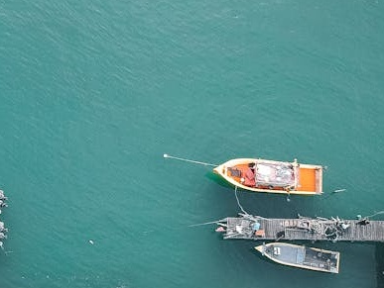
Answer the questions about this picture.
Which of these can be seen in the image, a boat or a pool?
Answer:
boat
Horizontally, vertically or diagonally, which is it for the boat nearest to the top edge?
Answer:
horizontally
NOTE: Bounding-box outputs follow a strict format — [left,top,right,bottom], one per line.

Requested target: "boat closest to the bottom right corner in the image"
[250,242,340,273]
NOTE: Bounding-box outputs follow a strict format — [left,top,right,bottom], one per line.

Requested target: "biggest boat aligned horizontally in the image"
[210,159,324,201]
